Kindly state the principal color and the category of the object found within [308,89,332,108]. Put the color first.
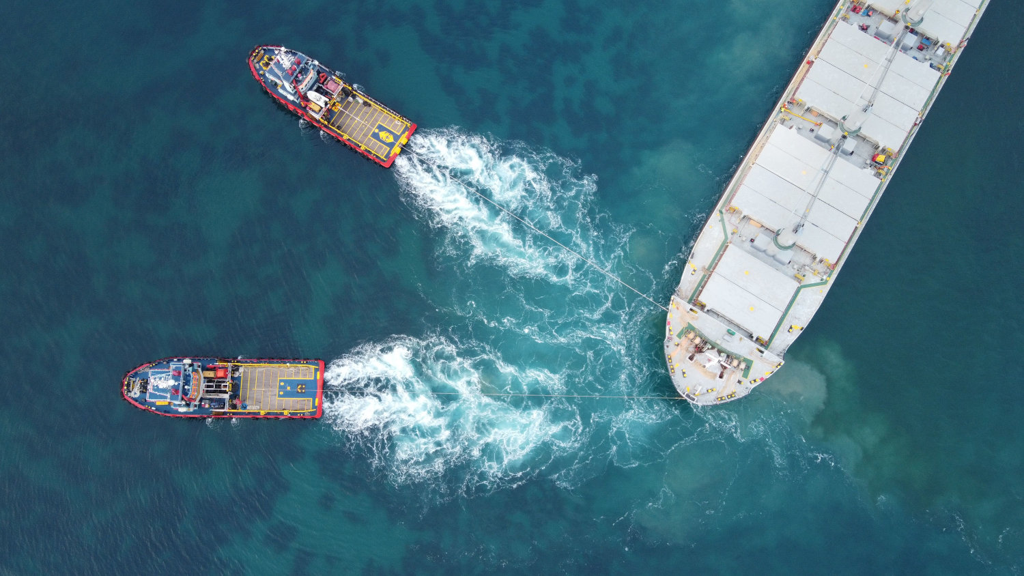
white boat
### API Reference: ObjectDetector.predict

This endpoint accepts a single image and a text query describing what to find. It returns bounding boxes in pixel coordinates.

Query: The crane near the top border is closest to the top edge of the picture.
[887,0,935,47]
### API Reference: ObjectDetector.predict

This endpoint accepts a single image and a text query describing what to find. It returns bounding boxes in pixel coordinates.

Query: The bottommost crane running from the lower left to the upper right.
[764,133,848,259]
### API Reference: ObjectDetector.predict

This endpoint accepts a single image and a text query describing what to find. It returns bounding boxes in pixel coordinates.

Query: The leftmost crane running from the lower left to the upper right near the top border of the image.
[827,25,910,150]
